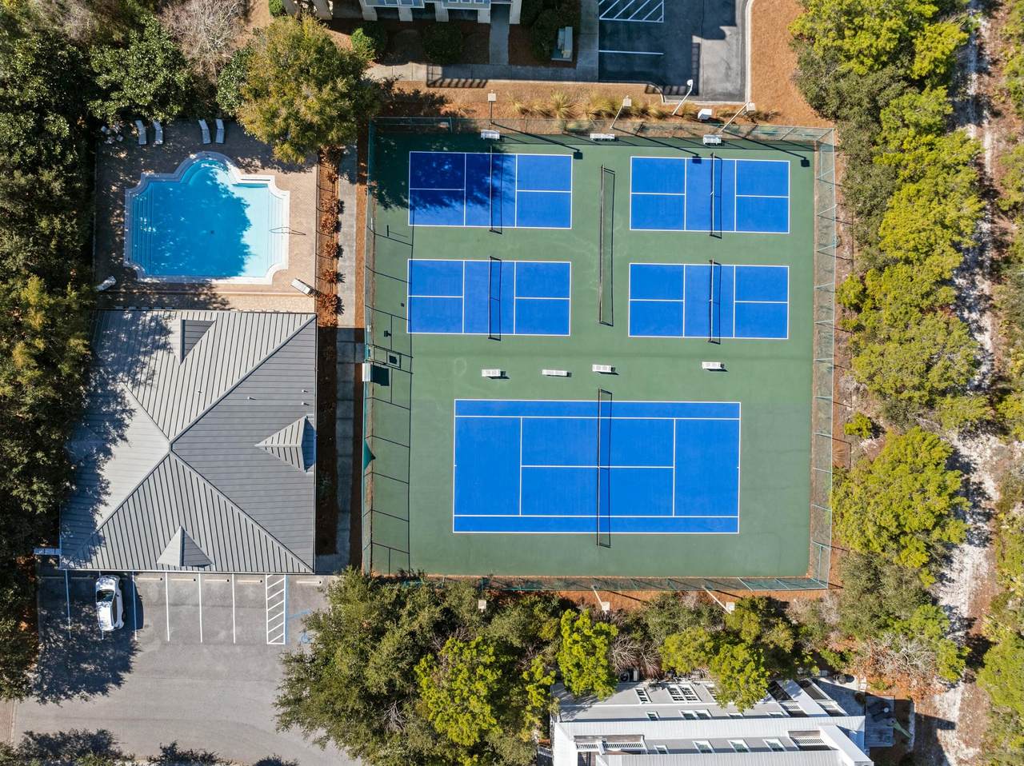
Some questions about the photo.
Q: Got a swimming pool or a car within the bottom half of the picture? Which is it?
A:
car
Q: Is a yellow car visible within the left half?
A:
No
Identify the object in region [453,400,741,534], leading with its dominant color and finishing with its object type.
blue tennis court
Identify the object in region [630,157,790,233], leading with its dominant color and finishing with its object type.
blue sports court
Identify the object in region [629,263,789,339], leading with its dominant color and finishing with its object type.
blue sports court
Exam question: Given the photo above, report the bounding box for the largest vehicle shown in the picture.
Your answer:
[92,576,124,631]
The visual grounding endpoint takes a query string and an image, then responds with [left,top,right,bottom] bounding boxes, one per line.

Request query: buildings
[272,0,522,22]
[533,683,874,766]
[39,309,318,575]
